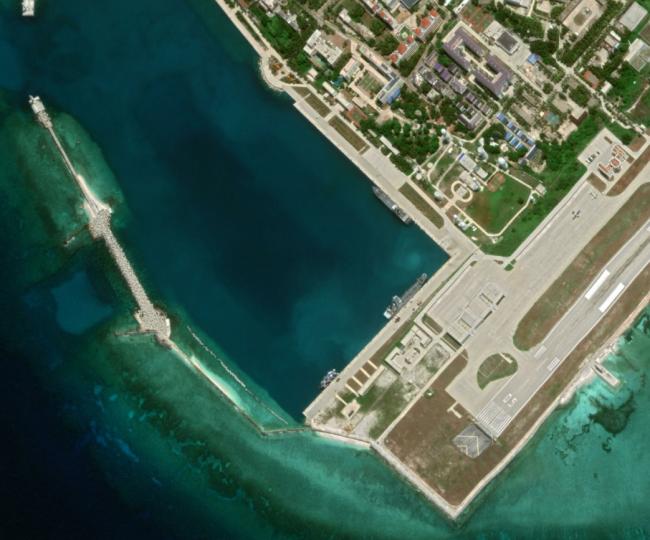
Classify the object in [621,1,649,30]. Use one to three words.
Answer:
building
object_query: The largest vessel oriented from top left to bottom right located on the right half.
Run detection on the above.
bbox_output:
[373,187,413,224]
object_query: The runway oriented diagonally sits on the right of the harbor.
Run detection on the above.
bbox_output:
[476,217,650,437]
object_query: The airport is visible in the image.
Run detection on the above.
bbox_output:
[414,124,650,459]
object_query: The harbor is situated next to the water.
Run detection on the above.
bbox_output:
[215,0,480,422]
